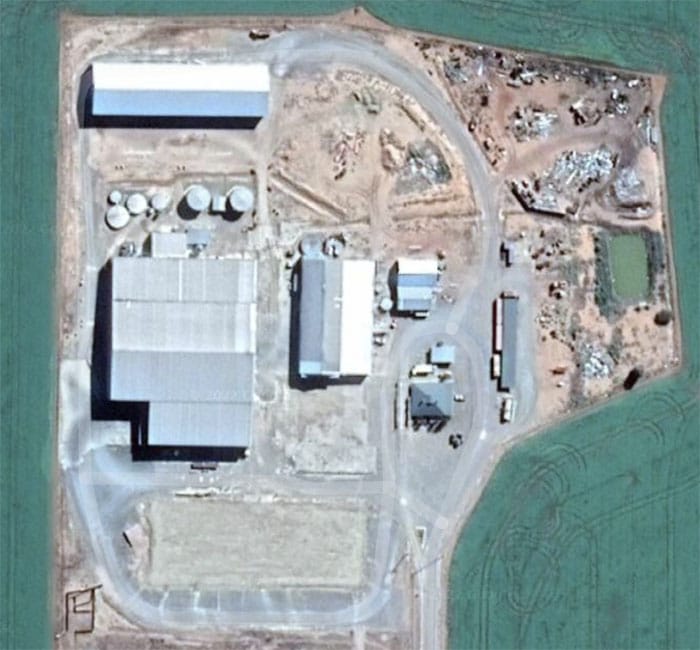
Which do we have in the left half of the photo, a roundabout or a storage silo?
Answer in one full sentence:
It is a storage silo that can be seen in the left half of the photo.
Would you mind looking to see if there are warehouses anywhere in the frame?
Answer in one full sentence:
Yes, a warehouse is visible in the scene.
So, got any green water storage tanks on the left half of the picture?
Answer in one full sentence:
No, looking on the left half of the picture, there is no green water storage tank.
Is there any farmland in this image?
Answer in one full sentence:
Yes, some farmland is visible.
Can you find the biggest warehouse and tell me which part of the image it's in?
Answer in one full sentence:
The biggest warehouse is in the left part of the image.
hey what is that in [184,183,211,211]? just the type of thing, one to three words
silo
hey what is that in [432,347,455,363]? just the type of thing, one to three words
shed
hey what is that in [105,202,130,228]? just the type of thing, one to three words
water tank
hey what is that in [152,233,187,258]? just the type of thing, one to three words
building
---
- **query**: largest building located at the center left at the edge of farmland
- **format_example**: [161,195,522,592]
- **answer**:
[111,258,256,448]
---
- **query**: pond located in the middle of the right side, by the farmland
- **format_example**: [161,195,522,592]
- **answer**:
[603,226,656,312]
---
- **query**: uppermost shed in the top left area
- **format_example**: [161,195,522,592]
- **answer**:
[92,62,270,117]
